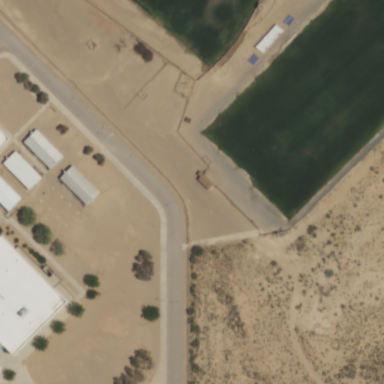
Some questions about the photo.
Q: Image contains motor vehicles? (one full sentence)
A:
No, no motor vehicle can be seen from above.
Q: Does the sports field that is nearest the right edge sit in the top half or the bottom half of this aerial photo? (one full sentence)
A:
Seen from above, the sports field that is nearest the right edge lies in the top half of the view.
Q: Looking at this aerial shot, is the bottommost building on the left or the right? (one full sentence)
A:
The bottommost building appears in the left half of the scene.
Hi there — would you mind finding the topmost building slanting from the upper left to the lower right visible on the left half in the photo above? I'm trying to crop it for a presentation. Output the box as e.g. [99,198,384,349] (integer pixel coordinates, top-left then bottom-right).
[24,129,62,169]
